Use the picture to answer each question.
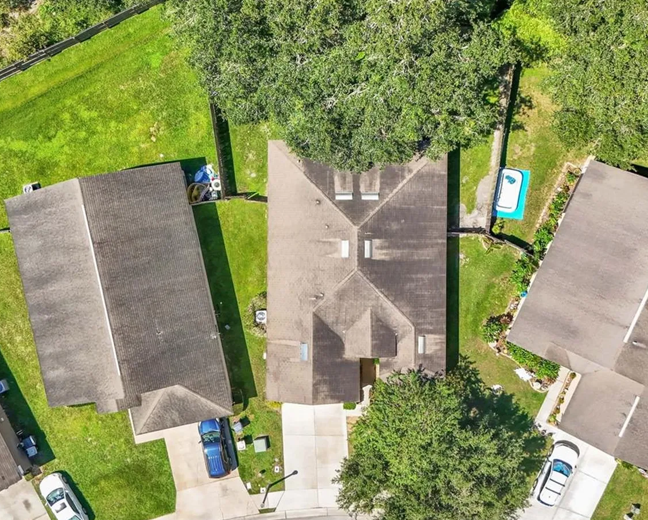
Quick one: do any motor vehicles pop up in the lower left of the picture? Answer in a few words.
Yes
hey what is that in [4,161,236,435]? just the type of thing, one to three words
house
